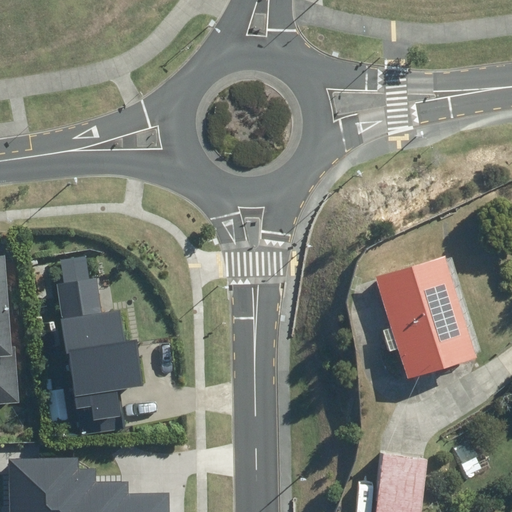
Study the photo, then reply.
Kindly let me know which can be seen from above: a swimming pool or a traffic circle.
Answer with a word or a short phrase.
traffic circle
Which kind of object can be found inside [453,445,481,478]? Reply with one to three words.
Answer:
shed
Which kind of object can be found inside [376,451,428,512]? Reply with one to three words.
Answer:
building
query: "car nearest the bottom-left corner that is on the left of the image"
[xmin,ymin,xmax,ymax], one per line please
[125,402,158,417]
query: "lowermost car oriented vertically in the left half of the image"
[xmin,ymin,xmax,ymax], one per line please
[160,344,174,374]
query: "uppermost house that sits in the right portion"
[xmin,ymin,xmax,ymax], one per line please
[376,257,477,378]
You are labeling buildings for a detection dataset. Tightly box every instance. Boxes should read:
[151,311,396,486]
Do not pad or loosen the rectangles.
[50,388,68,422]
[376,257,477,378]
[56,256,142,435]
[10,458,170,512]
[0,248,20,404]
[376,451,428,512]
[453,445,481,478]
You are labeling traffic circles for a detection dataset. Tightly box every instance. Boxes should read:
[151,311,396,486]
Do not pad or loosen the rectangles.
[166,40,332,206]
